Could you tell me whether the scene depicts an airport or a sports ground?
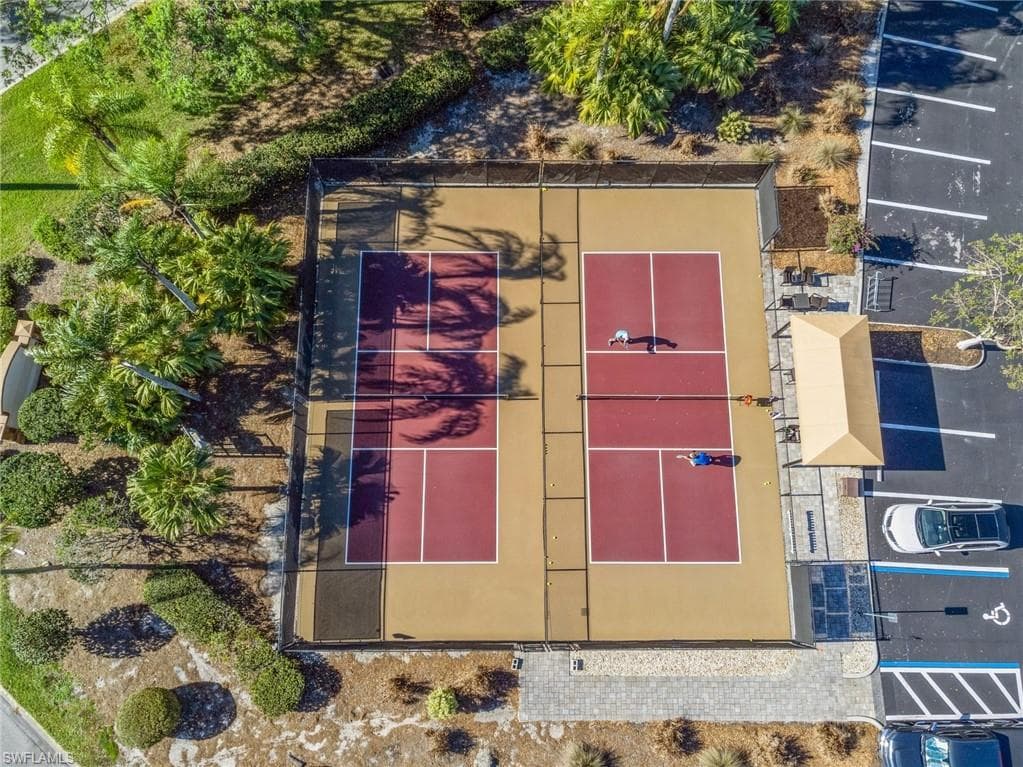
sports ground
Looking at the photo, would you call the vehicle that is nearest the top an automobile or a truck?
automobile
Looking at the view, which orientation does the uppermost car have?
from left to right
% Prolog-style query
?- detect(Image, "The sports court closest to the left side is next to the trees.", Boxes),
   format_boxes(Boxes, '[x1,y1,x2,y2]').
[297,186,545,641]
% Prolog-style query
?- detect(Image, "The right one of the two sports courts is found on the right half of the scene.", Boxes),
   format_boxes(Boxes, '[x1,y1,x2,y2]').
[541,187,792,641]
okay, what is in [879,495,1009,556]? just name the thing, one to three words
car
